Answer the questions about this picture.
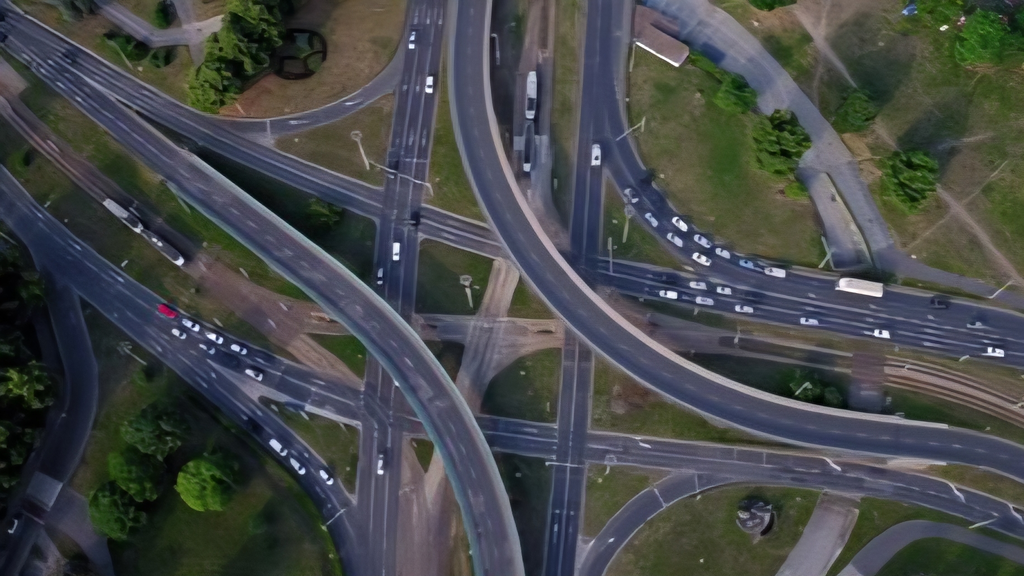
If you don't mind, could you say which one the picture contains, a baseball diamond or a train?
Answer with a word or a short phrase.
train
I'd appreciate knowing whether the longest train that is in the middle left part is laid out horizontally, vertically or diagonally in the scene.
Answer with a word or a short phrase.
diagonally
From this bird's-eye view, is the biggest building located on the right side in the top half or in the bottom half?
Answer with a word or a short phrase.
top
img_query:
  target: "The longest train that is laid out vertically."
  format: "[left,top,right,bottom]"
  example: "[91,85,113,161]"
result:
[522,74,537,174]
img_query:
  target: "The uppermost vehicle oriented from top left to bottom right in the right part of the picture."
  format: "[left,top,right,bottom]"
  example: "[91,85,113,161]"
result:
[624,187,641,205]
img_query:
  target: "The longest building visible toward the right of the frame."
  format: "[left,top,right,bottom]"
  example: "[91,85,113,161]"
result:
[635,5,688,69]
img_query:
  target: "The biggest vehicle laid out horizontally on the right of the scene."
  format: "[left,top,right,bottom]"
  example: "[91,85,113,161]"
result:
[836,279,884,298]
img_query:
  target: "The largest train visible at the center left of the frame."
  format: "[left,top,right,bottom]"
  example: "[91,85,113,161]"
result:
[105,199,186,267]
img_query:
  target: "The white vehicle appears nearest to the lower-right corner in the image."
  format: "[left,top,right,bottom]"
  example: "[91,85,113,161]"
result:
[985,345,1006,360]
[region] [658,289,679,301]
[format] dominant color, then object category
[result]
white vehicle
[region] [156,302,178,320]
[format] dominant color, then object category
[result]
red car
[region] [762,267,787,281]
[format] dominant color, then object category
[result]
white vehicle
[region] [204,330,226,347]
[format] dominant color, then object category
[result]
white car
